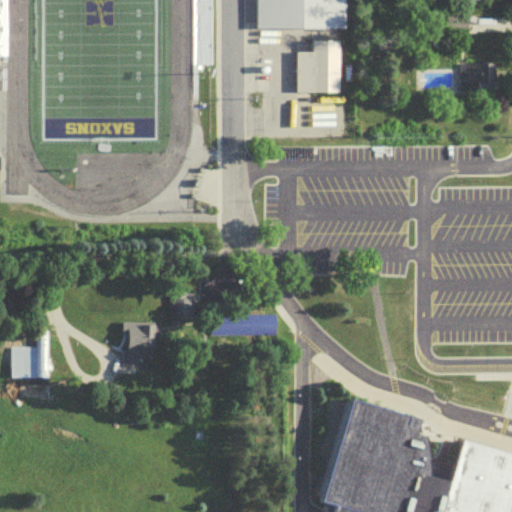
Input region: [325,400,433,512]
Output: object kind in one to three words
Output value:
building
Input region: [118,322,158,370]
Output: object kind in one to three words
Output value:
house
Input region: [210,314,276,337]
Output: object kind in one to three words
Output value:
shed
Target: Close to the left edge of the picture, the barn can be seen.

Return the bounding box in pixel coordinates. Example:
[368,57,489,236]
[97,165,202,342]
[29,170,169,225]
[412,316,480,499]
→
[11,331,54,380]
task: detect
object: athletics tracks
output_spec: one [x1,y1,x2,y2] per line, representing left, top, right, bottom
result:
[7,0,192,214]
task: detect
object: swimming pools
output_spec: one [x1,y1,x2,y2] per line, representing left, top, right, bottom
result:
[416,69,454,90]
